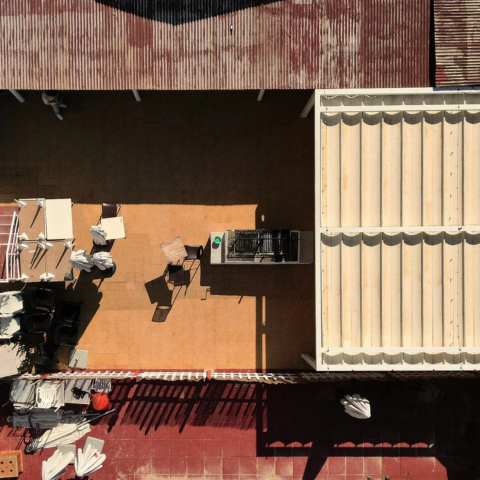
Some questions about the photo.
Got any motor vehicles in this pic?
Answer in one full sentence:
No, there's no motor vehicle here.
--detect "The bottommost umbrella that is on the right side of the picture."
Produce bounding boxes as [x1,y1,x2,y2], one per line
[341,392,370,417]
